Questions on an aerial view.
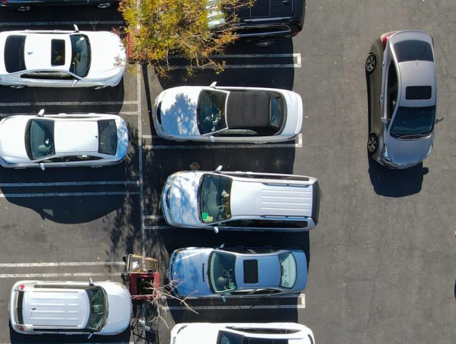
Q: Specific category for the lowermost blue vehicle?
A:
car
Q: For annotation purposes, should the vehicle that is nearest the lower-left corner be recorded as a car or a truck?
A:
car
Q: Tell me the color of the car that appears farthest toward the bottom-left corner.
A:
white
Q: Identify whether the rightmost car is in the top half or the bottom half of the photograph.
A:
top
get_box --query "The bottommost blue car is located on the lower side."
[167,241,307,305]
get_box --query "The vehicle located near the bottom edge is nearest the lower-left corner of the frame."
[10,275,130,342]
